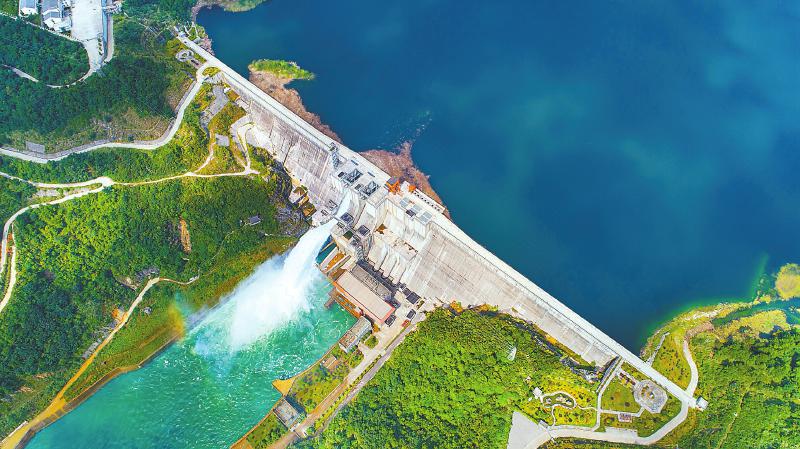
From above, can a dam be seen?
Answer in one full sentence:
Yes, you can see a dam in this photo.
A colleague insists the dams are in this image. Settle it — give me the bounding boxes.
[173,28,696,412]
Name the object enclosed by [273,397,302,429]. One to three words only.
building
